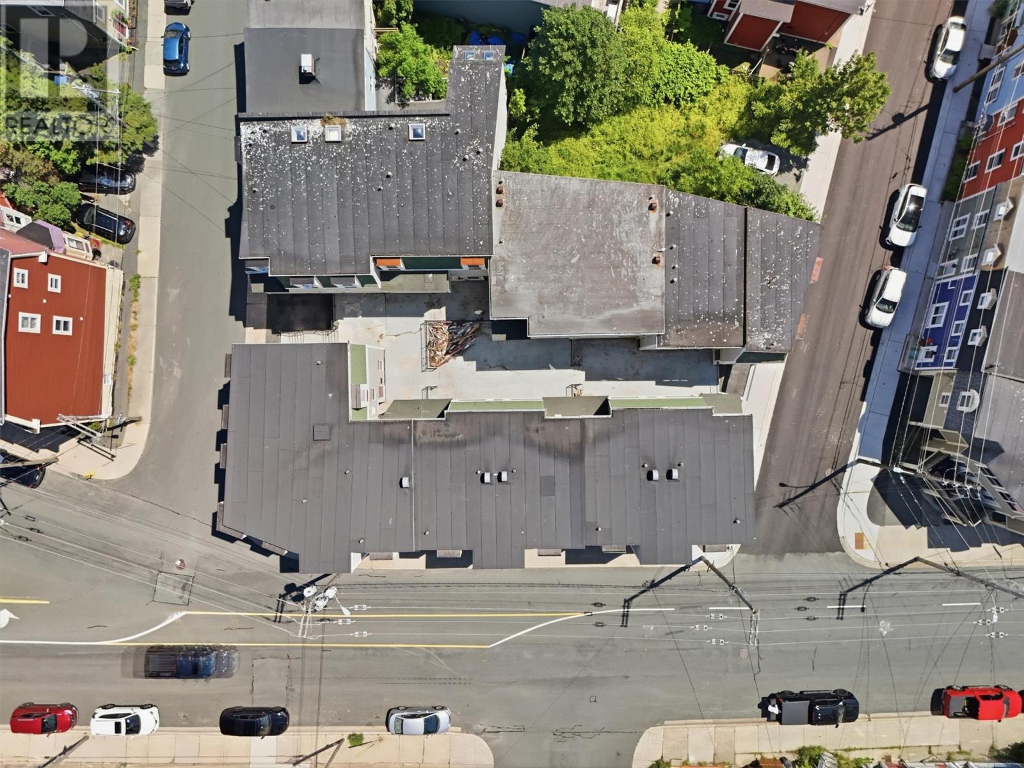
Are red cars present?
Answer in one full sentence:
Yes, this view includes a red car.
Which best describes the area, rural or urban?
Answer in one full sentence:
From above, the setting appears urban.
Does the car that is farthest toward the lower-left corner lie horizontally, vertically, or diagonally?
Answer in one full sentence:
From this overhead view, the car that is farthest toward the lower-left corner appears to run horizontally.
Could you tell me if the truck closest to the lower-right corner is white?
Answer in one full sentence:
No, the truck closest to the lower-right corner is red.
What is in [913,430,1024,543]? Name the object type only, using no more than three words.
house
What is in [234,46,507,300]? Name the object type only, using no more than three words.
building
